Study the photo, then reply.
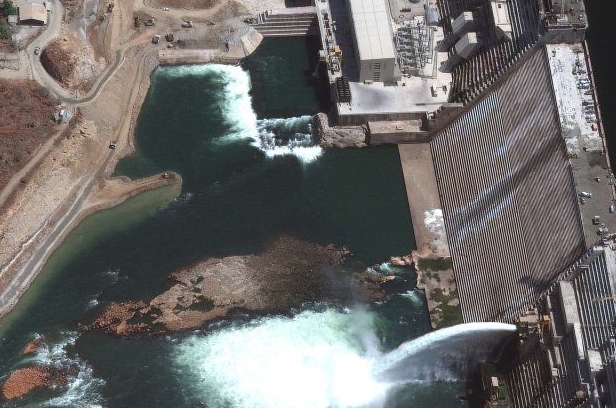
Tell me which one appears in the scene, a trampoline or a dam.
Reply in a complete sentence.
The one in the frame is a dam.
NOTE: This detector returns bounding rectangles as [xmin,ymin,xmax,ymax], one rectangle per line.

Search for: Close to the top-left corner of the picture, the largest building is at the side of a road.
[19,3,47,25]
